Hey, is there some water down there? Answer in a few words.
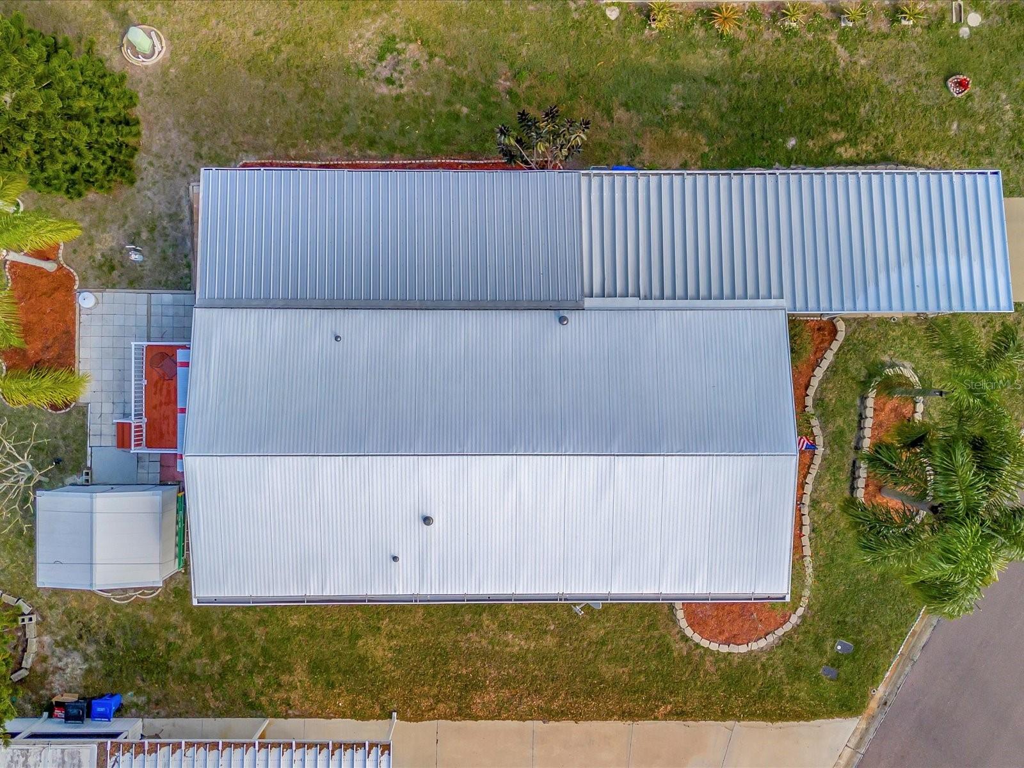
No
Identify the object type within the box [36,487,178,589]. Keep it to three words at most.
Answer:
shed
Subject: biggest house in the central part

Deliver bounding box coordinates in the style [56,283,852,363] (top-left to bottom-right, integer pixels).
[176,298,799,603]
